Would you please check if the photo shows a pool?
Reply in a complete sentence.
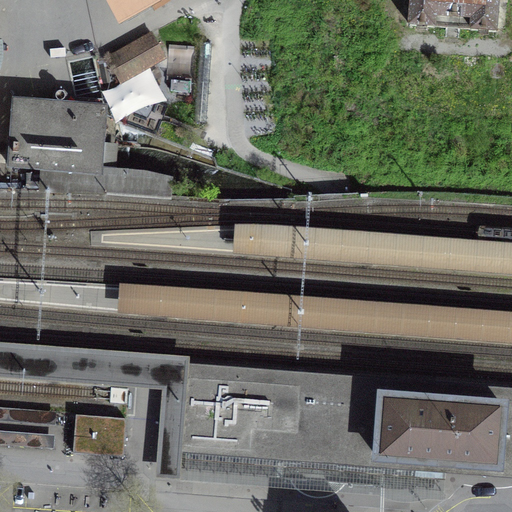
No, no pool is visible in the scene.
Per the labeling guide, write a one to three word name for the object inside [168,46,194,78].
shed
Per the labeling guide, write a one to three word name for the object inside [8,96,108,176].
building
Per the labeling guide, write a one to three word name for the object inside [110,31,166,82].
house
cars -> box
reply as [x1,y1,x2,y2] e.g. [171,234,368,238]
[14,484,24,505]
[472,485,496,496]
[70,42,94,53]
